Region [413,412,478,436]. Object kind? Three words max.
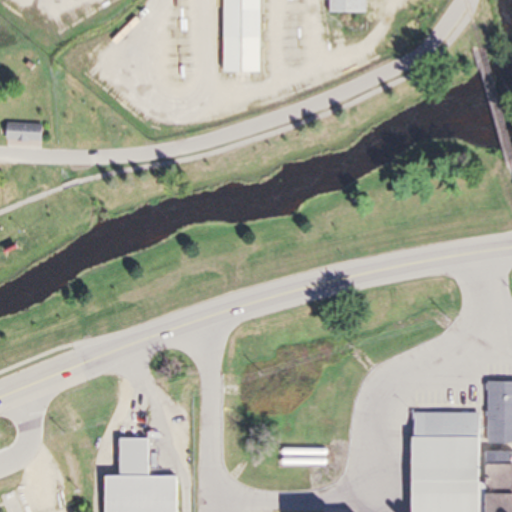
building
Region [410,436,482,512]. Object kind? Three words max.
building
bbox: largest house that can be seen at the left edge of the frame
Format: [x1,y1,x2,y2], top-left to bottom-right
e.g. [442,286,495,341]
[6,122,41,141]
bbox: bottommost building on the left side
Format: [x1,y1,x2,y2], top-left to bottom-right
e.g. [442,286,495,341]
[103,474,178,512]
